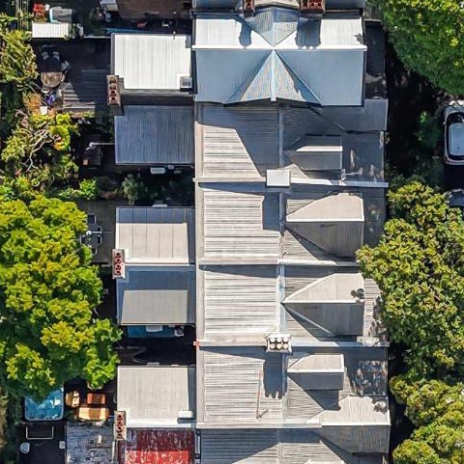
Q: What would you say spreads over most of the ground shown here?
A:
buildings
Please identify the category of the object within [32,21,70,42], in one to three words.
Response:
shed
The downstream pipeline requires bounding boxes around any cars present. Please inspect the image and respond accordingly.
[445,187,464,215]
[441,99,464,165]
